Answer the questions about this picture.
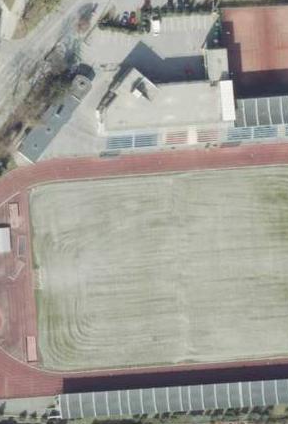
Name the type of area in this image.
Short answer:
sports ground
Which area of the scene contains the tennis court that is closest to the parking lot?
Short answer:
top right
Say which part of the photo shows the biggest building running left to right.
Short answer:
top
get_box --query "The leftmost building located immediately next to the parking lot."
[14,95,79,163]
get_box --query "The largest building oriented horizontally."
[88,67,220,131]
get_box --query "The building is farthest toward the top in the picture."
[197,48,229,80]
